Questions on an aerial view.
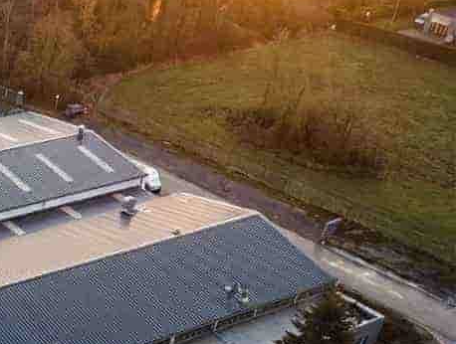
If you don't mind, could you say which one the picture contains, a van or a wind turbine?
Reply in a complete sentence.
Looking from above, you can make out a van.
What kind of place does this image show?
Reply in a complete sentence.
This looks like an industrial area.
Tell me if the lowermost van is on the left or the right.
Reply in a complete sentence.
The lowermost van is on the left side of the image.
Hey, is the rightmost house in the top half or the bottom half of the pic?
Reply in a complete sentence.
The rightmost house is in the top half of the image.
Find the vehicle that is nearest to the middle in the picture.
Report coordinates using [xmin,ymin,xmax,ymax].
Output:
[141,162,176,195]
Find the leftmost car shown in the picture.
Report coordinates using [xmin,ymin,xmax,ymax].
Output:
[61,100,90,118]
